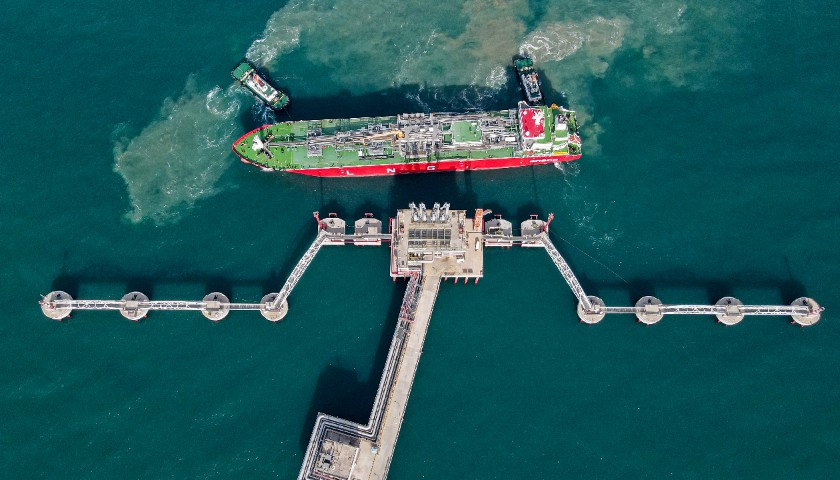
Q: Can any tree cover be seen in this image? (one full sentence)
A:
No, the scene doesn't show any tree cover.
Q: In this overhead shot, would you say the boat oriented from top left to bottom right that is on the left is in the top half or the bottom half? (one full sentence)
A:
It is in the top half that the boat oriented from top left to bottom right that is on the left appears.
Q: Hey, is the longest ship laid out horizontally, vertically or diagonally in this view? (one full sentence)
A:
From this overhead view, the longest ship appears to run horizontally.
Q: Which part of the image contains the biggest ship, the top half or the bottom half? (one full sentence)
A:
It is in the top half that the biggest ship appears.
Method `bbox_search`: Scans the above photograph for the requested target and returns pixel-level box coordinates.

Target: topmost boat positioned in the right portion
[513,57,545,106]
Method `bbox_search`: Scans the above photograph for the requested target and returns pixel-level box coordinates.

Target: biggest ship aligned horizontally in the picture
[229,101,582,179]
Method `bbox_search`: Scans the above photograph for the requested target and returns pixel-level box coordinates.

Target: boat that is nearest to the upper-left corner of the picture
[233,62,289,109]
